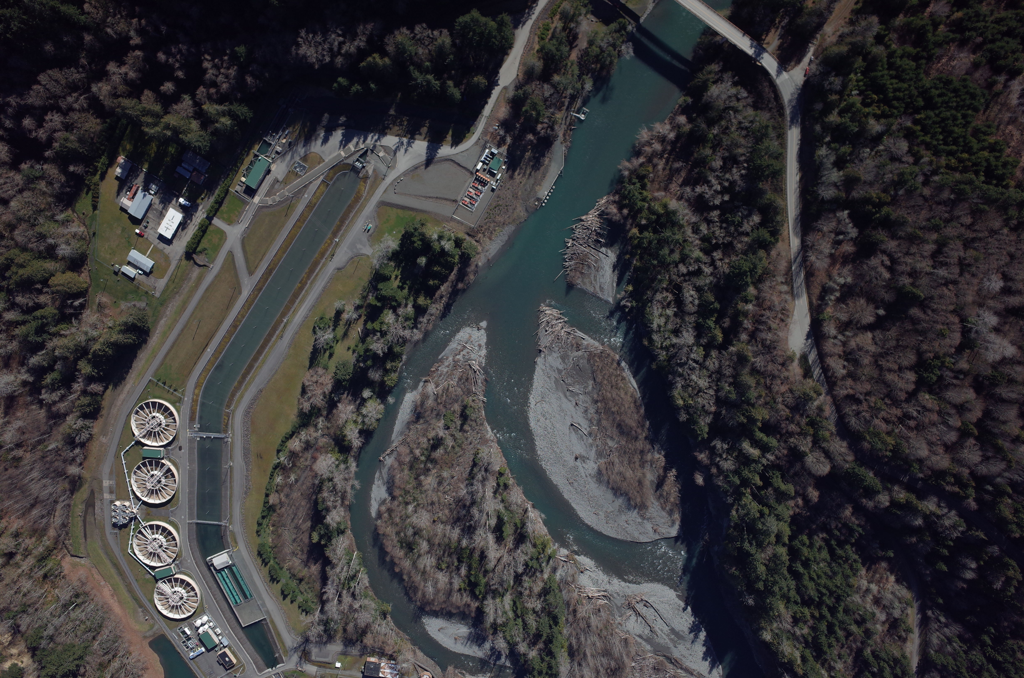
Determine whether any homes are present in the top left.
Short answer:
Yes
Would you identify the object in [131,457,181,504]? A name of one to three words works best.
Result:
storage tank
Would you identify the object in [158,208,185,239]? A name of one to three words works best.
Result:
building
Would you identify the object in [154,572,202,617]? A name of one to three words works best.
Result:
storage tank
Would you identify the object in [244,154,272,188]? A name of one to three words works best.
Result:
house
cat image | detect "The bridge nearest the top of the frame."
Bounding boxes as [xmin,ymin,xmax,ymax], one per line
[670,0,774,66]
